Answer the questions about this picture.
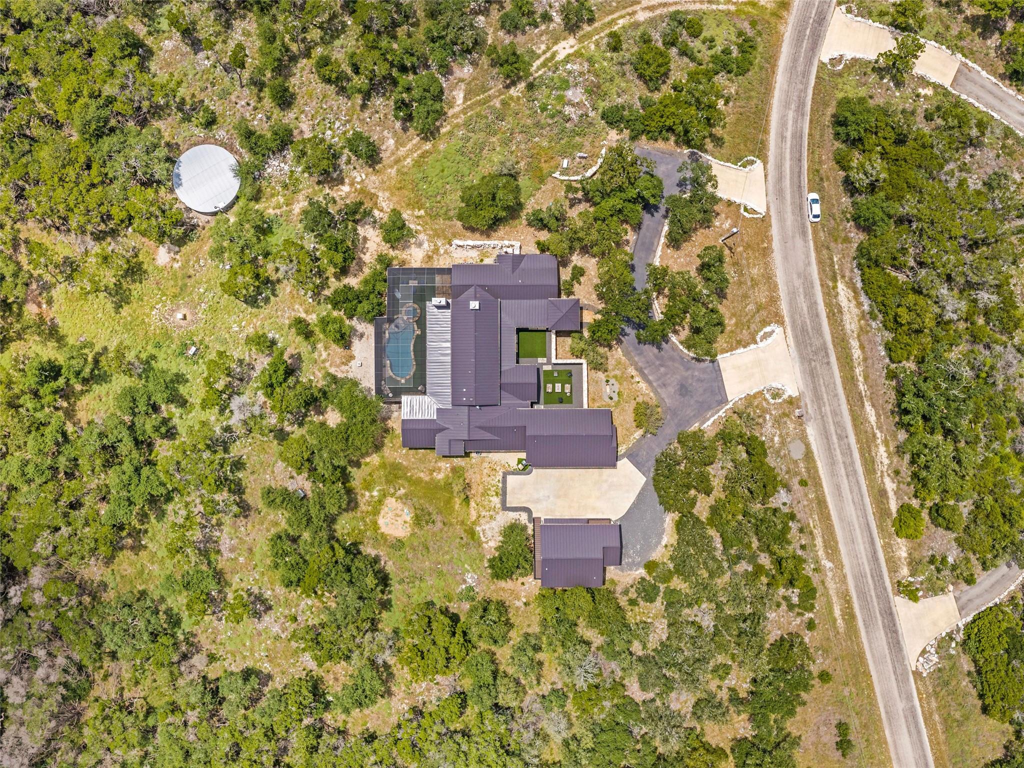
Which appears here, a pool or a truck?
pool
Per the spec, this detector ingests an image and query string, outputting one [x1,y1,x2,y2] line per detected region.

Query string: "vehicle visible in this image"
[806,193,822,223]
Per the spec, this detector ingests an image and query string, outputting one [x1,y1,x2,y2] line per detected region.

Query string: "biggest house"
[401,254,616,468]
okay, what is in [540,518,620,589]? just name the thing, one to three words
shed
